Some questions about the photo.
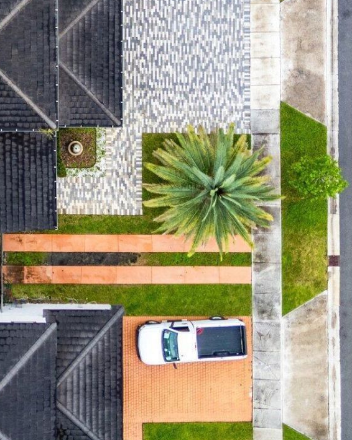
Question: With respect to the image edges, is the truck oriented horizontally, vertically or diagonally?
horizontally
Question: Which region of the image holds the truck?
bottom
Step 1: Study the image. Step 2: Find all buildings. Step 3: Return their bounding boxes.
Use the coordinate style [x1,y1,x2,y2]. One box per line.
[0,0,125,235]
[0,299,125,440]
